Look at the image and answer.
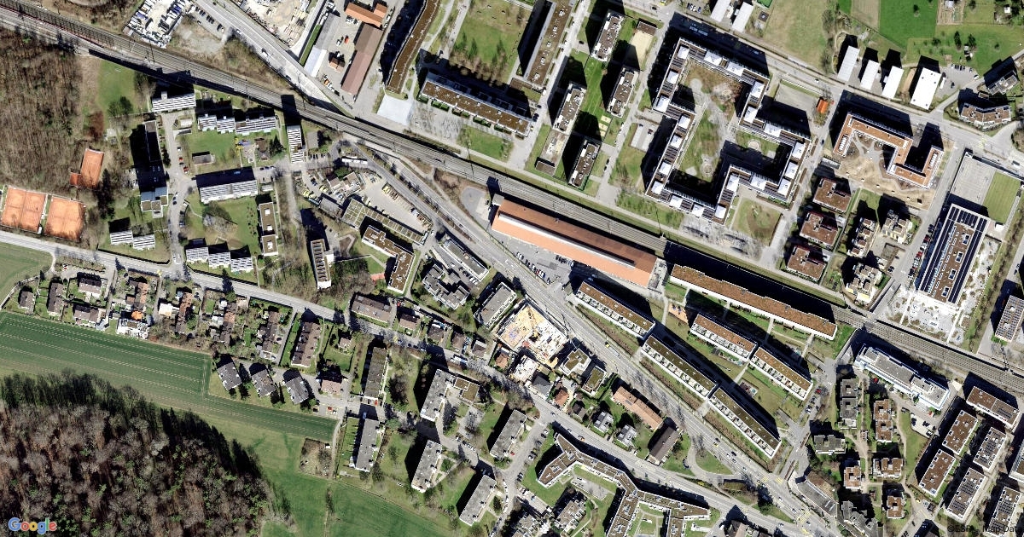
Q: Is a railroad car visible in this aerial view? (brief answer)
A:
No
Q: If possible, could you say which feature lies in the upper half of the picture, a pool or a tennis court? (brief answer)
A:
tennis court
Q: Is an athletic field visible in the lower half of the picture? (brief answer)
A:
No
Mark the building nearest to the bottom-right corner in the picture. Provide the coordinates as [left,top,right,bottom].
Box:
[988,487,1022,537]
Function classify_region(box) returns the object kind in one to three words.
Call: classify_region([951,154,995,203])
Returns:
sports court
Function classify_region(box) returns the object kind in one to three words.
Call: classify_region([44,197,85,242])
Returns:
tennis court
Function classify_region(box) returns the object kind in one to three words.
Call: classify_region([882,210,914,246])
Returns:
building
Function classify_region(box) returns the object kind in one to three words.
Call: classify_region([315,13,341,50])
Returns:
shed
